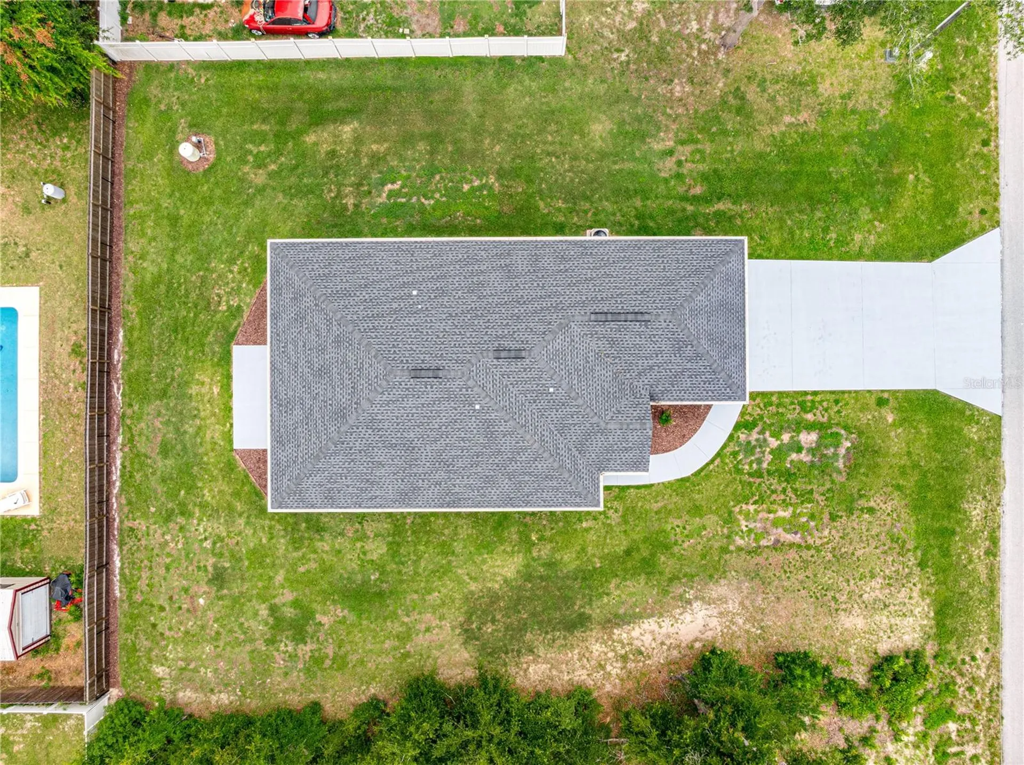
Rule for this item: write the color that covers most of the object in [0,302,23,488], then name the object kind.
blue swimming pool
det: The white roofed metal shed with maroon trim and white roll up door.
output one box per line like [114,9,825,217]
[0,578,50,658]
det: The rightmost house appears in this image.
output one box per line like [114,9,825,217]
[268,235,751,514]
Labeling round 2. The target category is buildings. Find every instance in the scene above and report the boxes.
[268,235,751,514]
[0,578,50,658]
